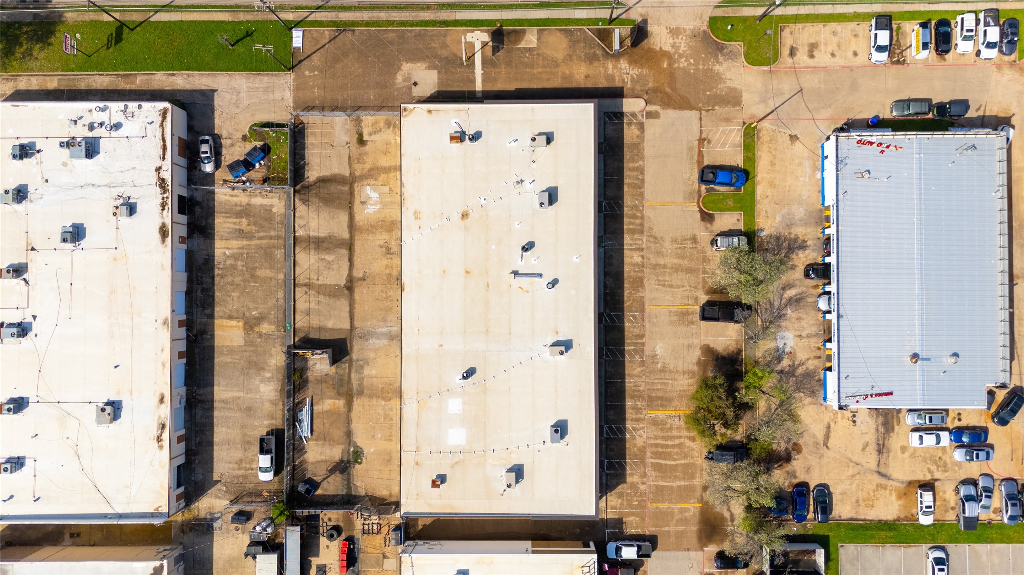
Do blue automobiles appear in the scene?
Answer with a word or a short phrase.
Yes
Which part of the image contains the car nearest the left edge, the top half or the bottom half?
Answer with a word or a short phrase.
top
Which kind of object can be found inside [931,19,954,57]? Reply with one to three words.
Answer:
car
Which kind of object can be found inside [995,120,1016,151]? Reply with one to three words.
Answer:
vehicle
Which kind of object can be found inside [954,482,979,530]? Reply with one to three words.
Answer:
truck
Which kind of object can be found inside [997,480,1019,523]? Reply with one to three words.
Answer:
car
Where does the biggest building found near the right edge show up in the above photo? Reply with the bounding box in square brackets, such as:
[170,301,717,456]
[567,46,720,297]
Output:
[820,131,1012,411]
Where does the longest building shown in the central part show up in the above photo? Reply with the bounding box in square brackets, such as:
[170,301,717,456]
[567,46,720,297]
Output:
[400,99,598,518]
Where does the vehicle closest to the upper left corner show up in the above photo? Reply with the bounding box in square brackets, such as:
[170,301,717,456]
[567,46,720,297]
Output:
[198,135,219,174]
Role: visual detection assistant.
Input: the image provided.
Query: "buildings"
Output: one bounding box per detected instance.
[0,546,184,575]
[820,131,1012,411]
[400,99,598,518]
[0,103,188,525]
[401,538,597,575]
